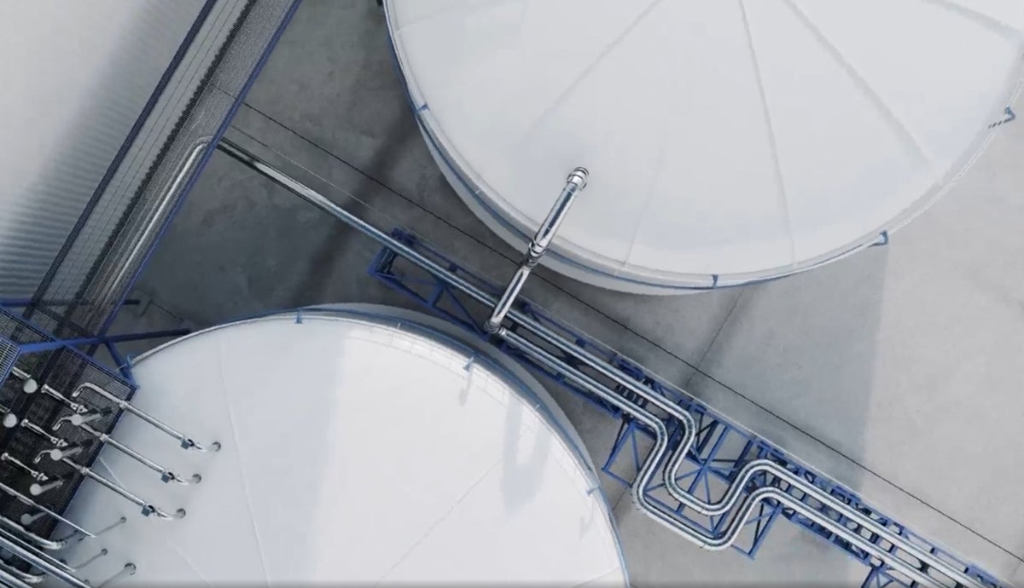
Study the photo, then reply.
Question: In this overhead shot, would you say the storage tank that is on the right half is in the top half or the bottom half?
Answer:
top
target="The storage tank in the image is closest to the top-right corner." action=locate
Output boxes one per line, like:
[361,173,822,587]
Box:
[371,0,1024,294]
